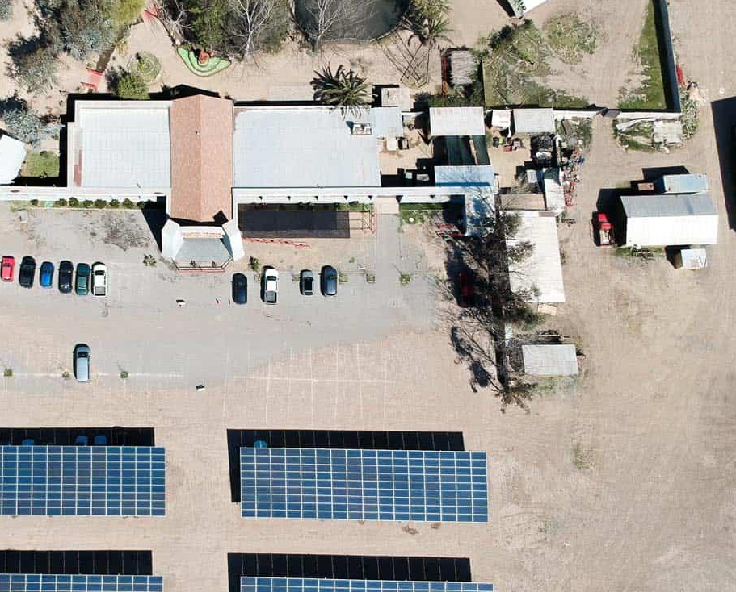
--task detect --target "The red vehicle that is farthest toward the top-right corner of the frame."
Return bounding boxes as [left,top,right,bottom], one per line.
[595,213,614,247]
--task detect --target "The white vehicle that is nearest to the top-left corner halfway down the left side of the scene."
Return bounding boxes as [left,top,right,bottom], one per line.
[92,262,108,297]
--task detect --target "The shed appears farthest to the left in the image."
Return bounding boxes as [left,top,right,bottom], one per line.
[0,135,30,186]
